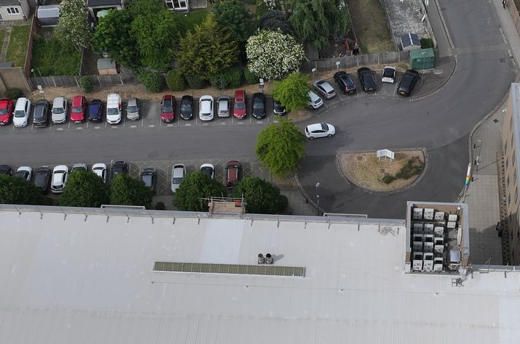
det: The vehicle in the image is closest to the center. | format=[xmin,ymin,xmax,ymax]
[224,160,242,192]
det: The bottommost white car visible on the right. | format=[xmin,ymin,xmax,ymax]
[303,123,337,141]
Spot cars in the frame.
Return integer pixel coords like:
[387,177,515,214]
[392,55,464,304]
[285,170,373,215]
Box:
[158,94,178,123]
[357,67,377,97]
[10,97,34,128]
[177,93,195,124]
[216,99,232,120]
[85,97,107,125]
[70,157,91,175]
[168,162,188,193]
[250,91,267,123]
[380,66,397,87]
[0,158,16,175]
[93,158,110,179]
[395,69,420,99]
[67,93,90,125]
[123,95,143,124]
[34,163,56,196]
[224,160,242,192]
[308,90,329,115]
[31,99,52,128]
[270,93,288,121]
[49,166,72,195]
[16,158,37,176]
[303,123,337,141]
[0,99,15,127]
[230,89,249,121]
[198,94,216,124]
[108,157,131,186]
[310,76,339,104]
[333,69,358,98]
[49,94,72,126]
